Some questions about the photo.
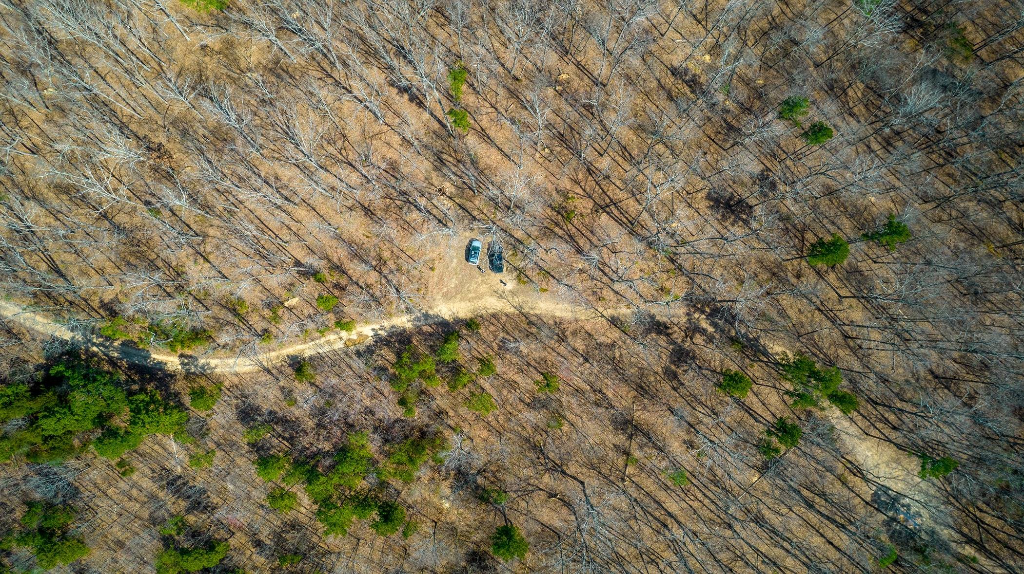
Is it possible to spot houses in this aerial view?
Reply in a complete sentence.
No, the picture doesn't show any house.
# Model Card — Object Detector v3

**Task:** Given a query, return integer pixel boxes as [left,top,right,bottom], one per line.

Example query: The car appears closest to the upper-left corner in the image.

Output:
[468,238,481,266]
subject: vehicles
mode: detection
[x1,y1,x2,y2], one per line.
[491,241,505,274]
[468,238,481,266]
